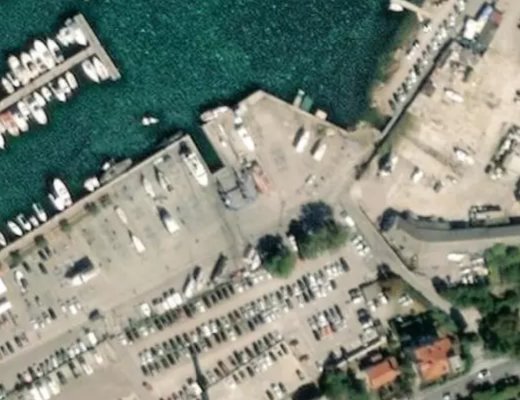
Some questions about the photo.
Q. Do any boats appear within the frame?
Yes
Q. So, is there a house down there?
Yes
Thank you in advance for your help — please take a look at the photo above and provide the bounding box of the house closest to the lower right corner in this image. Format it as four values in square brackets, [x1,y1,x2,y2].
[414,341,460,380]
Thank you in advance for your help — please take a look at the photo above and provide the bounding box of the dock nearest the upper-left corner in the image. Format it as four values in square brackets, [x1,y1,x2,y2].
[0,14,120,111]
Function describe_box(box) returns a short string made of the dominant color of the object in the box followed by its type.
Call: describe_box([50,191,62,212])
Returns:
white boat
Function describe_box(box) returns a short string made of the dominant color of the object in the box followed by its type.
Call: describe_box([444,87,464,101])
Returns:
white boat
